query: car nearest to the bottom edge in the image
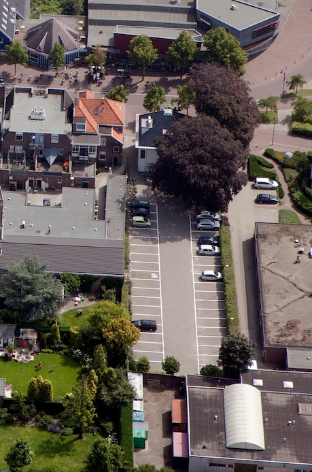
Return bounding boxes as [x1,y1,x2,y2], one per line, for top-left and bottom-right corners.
[131,318,157,331]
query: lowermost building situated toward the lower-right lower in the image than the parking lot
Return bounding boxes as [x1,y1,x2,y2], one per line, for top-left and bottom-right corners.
[185,369,312,472]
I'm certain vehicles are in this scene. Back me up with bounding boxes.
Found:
[256,194,279,206]
[127,197,151,209]
[195,219,218,231]
[130,216,153,227]
[197,234,220,245]
[198,244,221,256]
[129,207,152,217]
[131,318,157,331]
[253,177,277,190]
[201,270,224,282]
